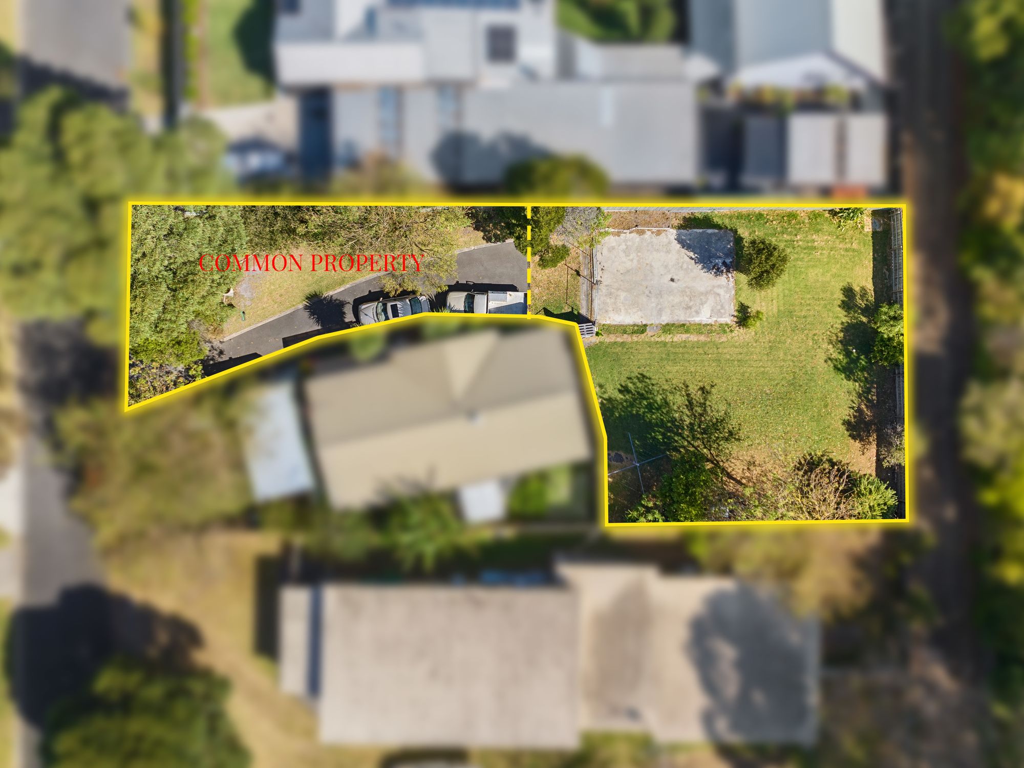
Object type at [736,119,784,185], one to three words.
shed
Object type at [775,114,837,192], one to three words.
shed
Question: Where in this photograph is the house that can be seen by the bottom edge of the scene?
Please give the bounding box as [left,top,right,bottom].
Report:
[281,559,819,751]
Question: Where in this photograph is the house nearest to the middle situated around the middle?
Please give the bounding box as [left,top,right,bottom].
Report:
[305,328,594,511]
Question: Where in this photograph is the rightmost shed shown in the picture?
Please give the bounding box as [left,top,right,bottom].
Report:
[830,114,889,192]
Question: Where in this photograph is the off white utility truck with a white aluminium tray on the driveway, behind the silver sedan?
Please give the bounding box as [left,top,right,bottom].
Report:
[447,287,527,322]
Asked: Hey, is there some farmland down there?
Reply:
No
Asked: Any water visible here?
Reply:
No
